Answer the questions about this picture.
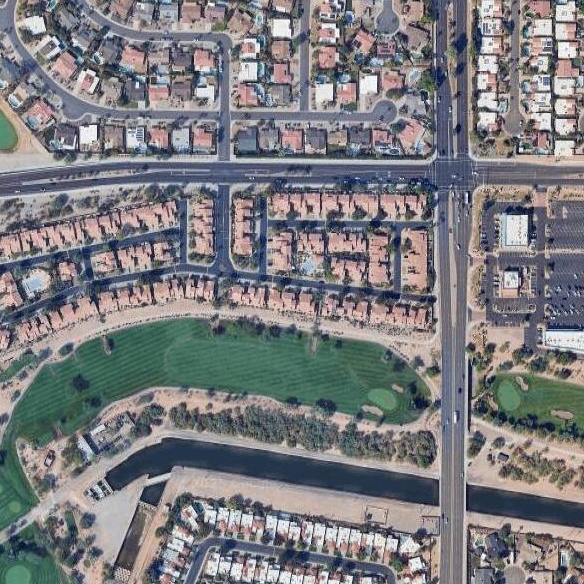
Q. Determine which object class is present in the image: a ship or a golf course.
golf course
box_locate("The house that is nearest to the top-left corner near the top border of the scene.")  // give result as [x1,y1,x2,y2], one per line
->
[22,15,48,35]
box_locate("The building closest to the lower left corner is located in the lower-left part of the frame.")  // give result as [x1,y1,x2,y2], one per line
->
[84,478,113,506]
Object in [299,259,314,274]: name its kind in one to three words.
swimming pool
